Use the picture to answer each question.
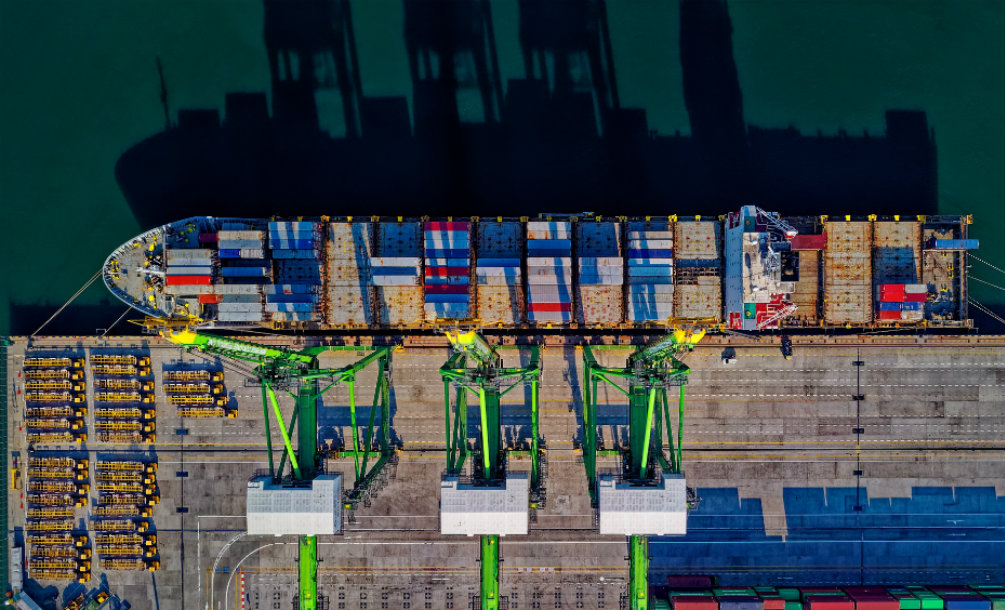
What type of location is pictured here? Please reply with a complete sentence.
The area seen from above is a port.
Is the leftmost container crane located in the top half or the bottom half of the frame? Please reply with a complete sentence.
The leftmost container crane sits in the bottom half of the picture.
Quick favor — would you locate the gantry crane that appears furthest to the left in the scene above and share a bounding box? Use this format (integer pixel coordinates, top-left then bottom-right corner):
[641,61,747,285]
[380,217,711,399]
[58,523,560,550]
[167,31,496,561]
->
[136,313,408,610]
